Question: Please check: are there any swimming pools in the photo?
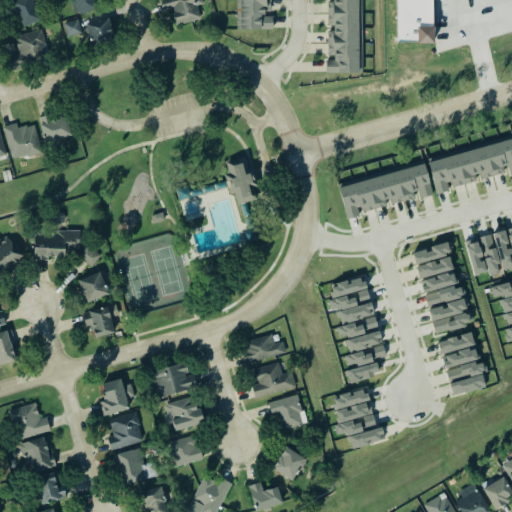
Yes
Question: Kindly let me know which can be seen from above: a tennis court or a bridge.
tennis court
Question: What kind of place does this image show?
residential area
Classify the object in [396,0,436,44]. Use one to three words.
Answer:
building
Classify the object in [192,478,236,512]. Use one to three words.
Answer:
house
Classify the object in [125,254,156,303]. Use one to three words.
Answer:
tennis court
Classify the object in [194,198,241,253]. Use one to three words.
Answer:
swimming pool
